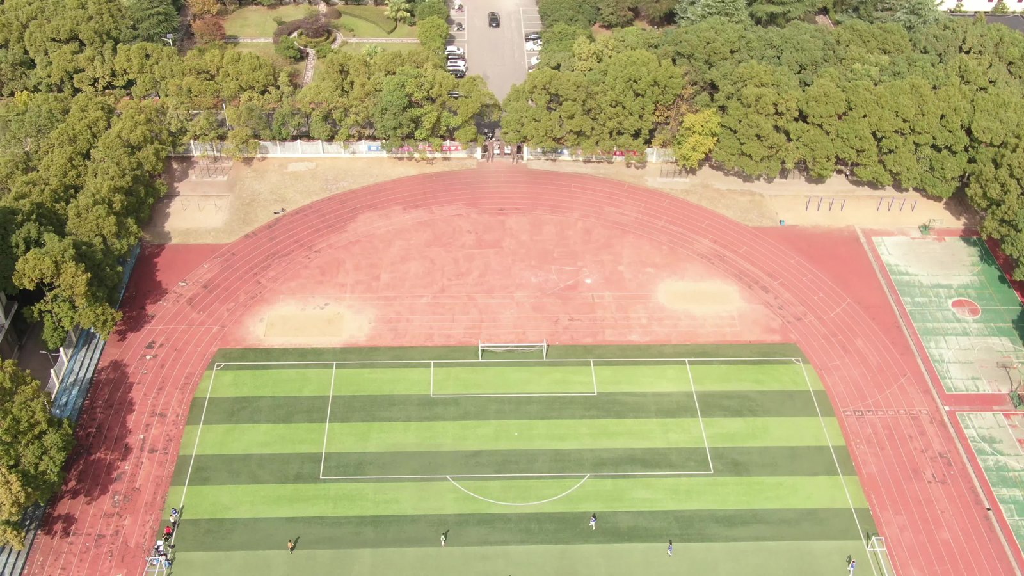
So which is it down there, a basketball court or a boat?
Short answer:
basketball court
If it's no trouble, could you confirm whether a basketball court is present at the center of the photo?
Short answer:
No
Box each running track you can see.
[20,157,1018,576]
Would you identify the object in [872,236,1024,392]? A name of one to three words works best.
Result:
basketball court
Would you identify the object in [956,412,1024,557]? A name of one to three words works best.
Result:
basketball court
